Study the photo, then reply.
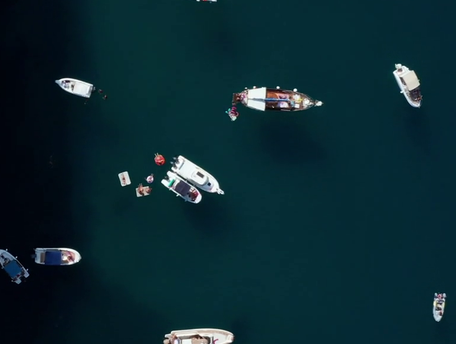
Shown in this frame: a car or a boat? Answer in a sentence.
The image shows a boat.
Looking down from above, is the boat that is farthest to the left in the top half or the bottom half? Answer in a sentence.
Seen from above, the boat that is farthest to the left lies in the bottom half of the view.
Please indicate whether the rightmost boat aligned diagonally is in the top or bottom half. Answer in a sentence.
The rightmost boat aligned diagonally sits in the top half of the picture.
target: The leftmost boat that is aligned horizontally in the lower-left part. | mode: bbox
[30,248,81,269]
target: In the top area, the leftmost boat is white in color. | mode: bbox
[53,79,96,98]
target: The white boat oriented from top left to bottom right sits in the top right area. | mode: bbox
[390,63,423,107]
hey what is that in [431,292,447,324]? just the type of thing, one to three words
boat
